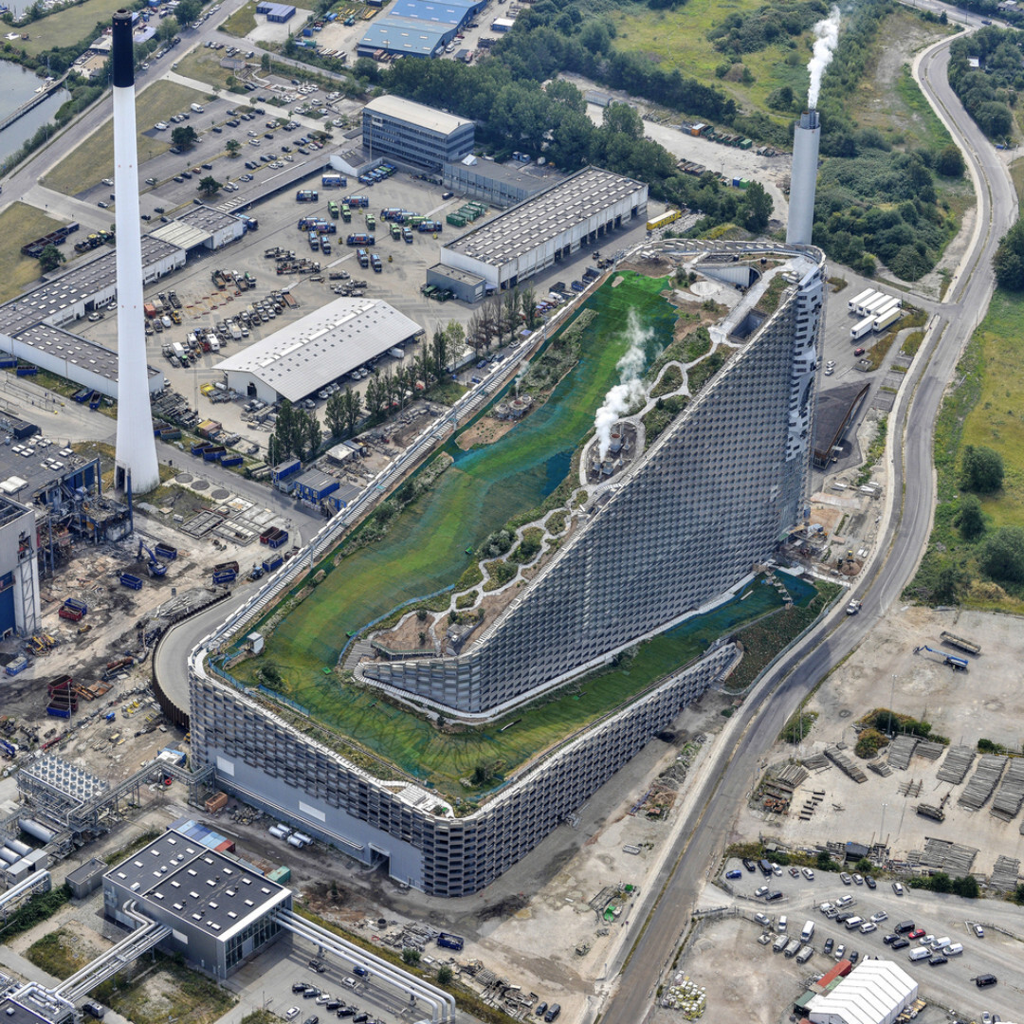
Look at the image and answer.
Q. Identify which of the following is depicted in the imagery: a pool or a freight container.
freight container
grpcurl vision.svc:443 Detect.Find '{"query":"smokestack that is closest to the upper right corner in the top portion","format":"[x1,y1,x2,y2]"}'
[791,110,824,245]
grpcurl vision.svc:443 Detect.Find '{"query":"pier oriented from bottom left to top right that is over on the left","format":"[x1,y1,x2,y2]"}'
[0,73,74,135]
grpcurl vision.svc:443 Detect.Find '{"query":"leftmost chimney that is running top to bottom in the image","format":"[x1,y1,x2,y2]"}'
[107,8,159,494]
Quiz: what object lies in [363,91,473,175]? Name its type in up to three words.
building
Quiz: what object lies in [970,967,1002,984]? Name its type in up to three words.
vehicle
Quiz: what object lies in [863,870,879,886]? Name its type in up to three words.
car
